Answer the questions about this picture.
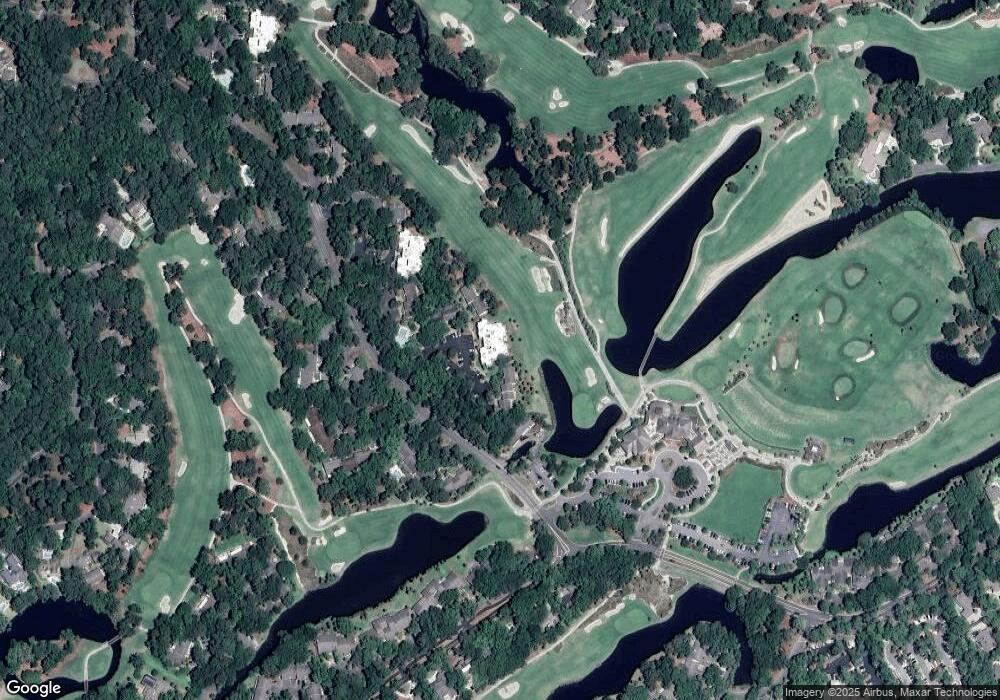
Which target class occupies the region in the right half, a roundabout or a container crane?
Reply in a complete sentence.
The feature located in the right half is a roundabout.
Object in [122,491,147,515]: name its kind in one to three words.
house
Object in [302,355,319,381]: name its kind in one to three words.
house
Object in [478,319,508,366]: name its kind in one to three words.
building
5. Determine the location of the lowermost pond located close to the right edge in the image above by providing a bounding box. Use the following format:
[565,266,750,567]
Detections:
[755,442,1000,582]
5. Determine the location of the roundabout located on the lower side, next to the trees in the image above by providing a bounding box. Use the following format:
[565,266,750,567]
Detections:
[632,449,711,551]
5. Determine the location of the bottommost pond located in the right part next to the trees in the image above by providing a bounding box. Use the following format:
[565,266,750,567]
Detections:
[546,586,752,700]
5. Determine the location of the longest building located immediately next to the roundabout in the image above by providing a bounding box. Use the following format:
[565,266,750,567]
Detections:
[646,400,709,449]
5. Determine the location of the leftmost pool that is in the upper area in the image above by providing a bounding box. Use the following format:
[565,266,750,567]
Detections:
[119,230,135,248]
